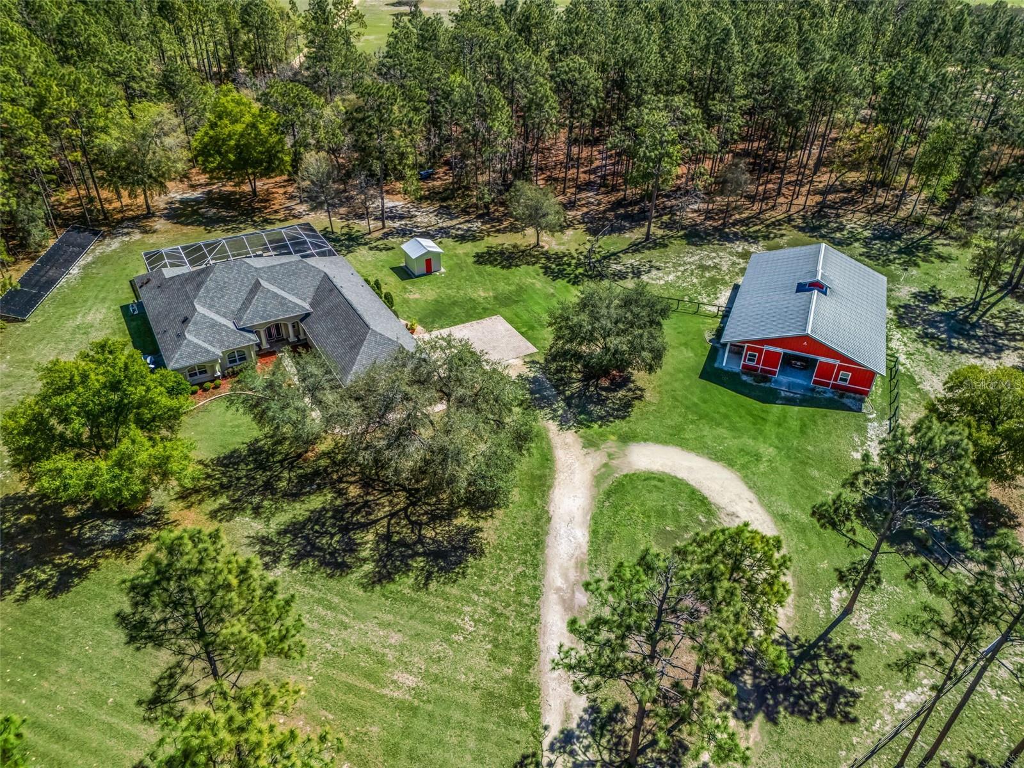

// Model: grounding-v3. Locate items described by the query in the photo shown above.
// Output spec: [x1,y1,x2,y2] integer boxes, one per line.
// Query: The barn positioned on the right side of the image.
[720,244,887,396]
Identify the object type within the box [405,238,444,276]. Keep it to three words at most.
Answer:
shed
